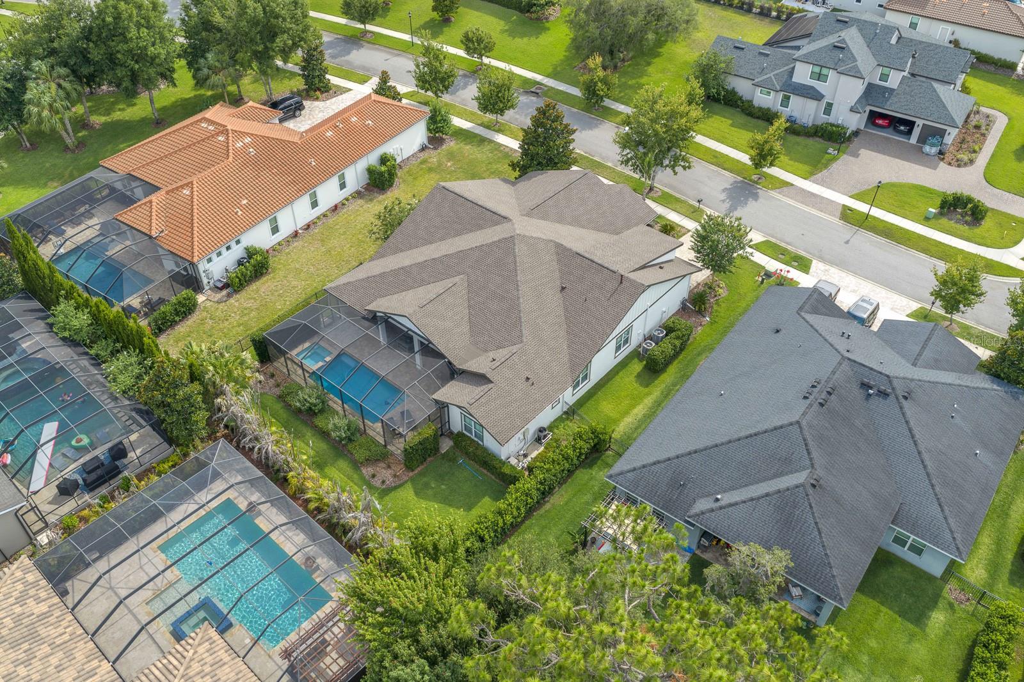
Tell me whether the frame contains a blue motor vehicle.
No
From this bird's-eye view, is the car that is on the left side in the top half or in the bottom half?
top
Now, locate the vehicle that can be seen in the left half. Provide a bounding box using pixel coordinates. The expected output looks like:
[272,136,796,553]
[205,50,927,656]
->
[273,95,311,123]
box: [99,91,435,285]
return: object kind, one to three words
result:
house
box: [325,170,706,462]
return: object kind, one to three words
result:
house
